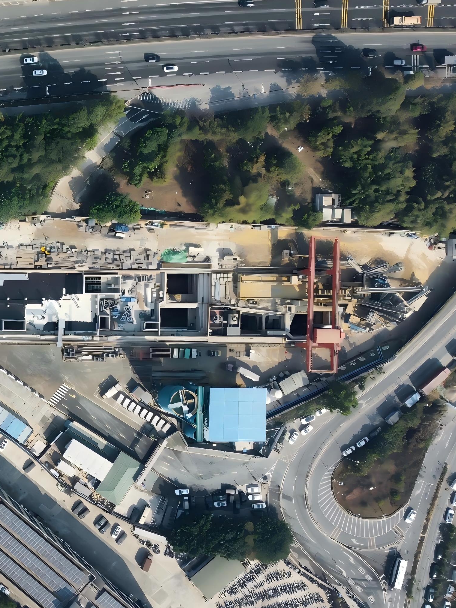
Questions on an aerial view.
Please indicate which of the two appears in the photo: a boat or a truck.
truck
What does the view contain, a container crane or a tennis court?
container crane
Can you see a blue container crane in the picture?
No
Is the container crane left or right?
right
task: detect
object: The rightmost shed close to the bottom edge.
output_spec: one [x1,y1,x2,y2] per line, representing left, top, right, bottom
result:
[193,551,254,601]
